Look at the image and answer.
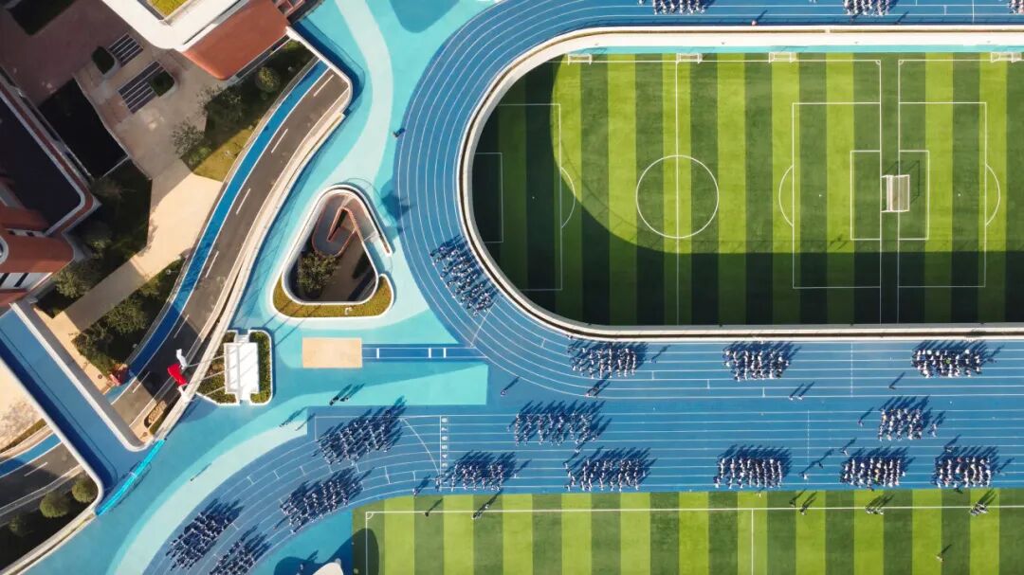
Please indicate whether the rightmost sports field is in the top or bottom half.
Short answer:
top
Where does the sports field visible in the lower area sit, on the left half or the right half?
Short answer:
right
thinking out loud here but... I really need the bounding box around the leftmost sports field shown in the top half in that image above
[472,54,881,328]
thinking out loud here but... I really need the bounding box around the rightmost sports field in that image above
[881,54,1024,327]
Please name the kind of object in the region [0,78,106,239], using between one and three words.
building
